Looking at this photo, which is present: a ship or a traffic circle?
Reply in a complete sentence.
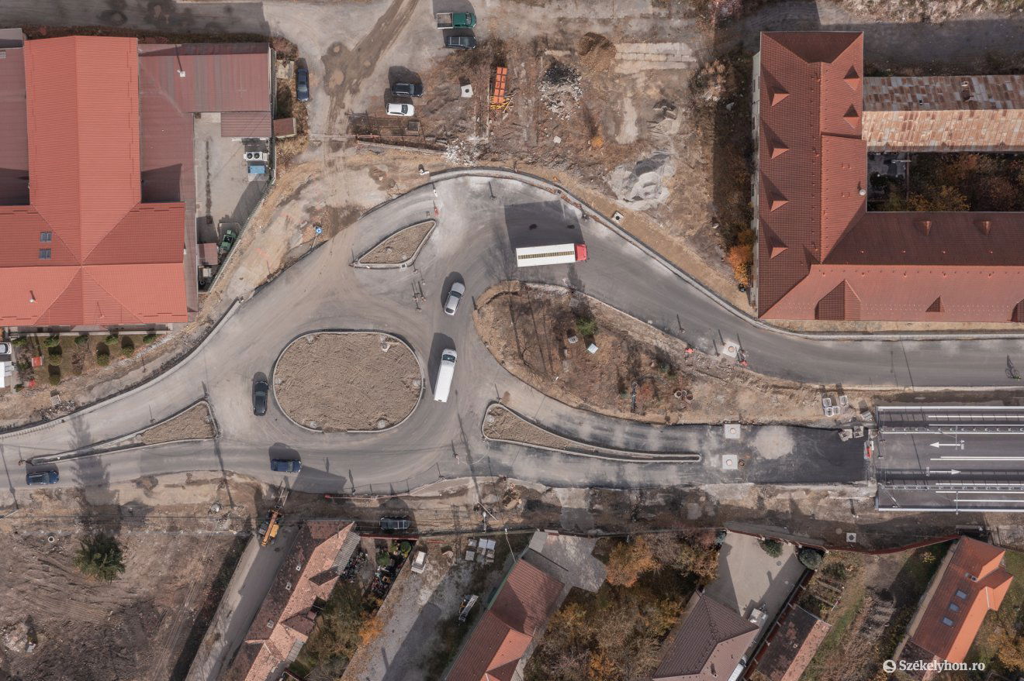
I can see a traffic circle in this picture.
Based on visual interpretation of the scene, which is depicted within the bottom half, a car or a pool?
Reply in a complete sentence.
The one visible within the bottom half is a car.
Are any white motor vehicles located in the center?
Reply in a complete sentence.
Yes, a white motor vehicle is visible in the center.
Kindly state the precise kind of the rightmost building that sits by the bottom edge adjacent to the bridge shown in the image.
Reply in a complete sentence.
In the photo, the rightmost building that sits by the bottom edge adjacent to the bridge shows up as a residential house.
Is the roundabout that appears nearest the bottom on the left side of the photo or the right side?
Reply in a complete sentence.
The roundabout that appears nearest the bottom sits on the left side.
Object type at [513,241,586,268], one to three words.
truck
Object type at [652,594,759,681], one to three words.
house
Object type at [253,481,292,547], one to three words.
crane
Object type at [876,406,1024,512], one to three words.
bridge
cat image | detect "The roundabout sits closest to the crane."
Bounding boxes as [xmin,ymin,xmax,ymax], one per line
[242,299,452,464]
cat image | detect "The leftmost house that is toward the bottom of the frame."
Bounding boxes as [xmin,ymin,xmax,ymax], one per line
[225,521,360,681]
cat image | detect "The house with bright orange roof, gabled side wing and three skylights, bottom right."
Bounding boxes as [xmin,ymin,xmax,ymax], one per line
[910,537,1013,663]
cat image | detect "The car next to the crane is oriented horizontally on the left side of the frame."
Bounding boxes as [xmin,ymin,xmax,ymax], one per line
[269,459,301,475]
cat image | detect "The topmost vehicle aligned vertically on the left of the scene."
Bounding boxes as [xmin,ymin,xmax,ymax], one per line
[294,67,310,100]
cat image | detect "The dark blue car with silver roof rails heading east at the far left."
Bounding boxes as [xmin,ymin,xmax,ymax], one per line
[24,470,58,486]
